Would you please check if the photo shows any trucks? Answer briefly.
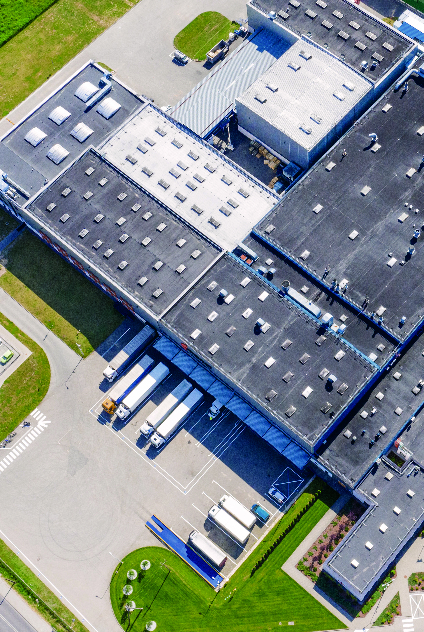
Yes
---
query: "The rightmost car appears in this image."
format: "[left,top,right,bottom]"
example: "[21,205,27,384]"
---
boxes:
[270,487,286,502]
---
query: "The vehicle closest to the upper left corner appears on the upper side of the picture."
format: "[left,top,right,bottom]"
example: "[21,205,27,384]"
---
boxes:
[173,49,189,64]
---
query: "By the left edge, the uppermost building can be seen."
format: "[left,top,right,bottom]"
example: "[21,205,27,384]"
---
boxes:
[0,60,145,227]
